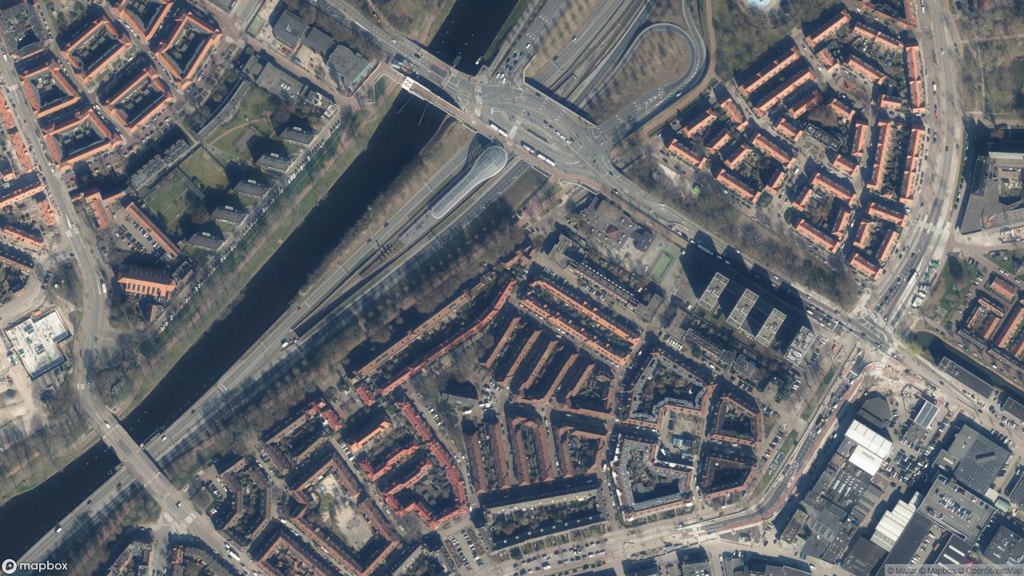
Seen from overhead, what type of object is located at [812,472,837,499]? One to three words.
building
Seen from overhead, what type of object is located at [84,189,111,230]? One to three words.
house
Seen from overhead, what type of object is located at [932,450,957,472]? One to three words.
building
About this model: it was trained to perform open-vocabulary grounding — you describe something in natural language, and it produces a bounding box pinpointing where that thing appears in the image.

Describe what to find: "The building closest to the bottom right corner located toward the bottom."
[984,526,1024,572]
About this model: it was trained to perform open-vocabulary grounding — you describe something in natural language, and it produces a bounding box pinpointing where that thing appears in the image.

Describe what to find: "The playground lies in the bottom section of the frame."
[318,474,374,551]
